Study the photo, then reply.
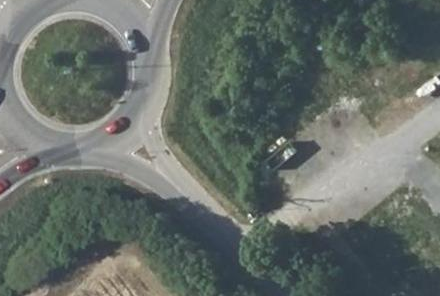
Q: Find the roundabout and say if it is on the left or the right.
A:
left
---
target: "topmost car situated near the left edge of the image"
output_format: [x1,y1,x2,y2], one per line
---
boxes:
[16,156,38,172]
